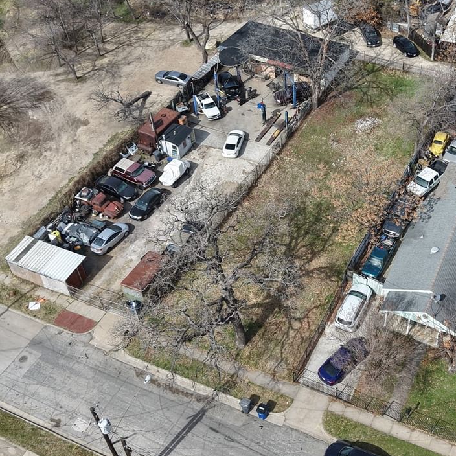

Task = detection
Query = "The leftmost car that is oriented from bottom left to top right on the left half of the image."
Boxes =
[84,219,136,259]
